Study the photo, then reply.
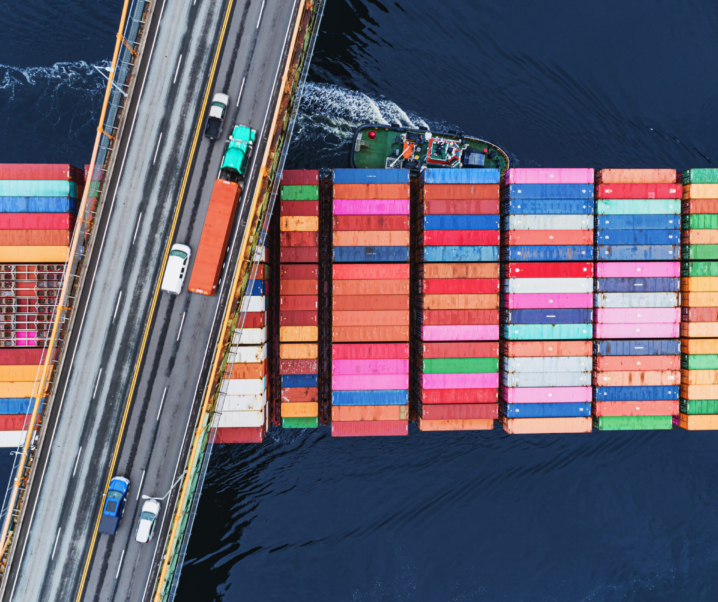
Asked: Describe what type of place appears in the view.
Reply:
port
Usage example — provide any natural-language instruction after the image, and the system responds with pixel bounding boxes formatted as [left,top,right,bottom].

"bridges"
[0,0,328,602]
